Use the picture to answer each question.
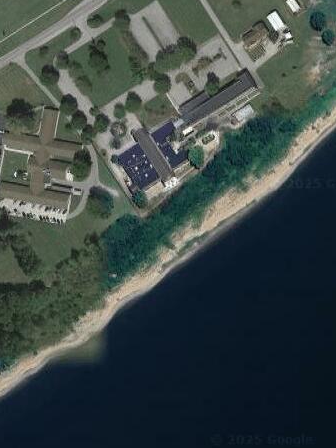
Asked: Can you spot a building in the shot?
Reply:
Yes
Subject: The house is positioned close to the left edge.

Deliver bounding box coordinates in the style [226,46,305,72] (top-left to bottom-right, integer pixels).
[0,108,82,207]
